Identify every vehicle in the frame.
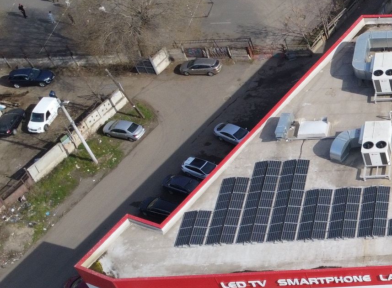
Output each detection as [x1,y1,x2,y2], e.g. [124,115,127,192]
[162,174,204,198]
[8,66,52,87]
[214,123,254,143]
[63,275,89,288]
[0,108,31,138]
[181,156,221,179]
[27,94,65,129]
[180,56,222,75]
[103,119,146,141]
[137,198,181,223]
